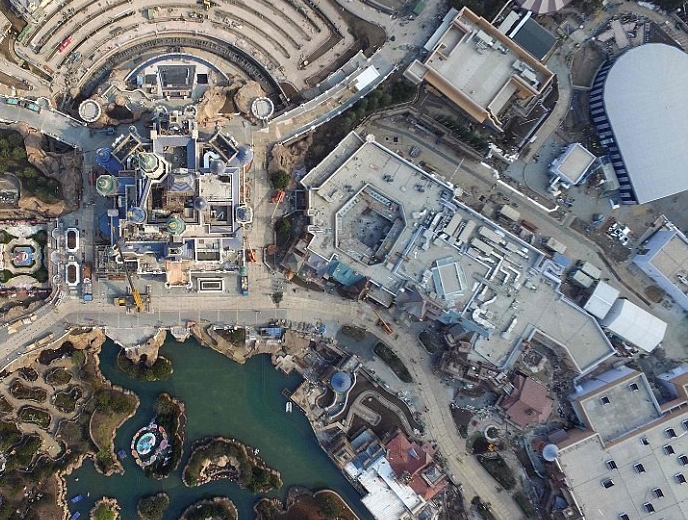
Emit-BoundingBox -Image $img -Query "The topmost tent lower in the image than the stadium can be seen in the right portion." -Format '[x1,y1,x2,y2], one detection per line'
[582,281,619,319]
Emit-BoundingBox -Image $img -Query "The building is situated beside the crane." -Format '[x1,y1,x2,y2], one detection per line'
[93,115,255,291]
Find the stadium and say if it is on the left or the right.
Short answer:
right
